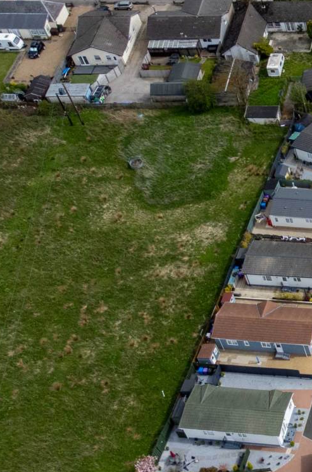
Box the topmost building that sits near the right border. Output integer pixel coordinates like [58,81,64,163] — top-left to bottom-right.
[222,0,312,65]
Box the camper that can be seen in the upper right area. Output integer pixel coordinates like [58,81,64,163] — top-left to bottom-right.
[267,55,287,78]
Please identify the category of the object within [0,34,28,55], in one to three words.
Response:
camper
